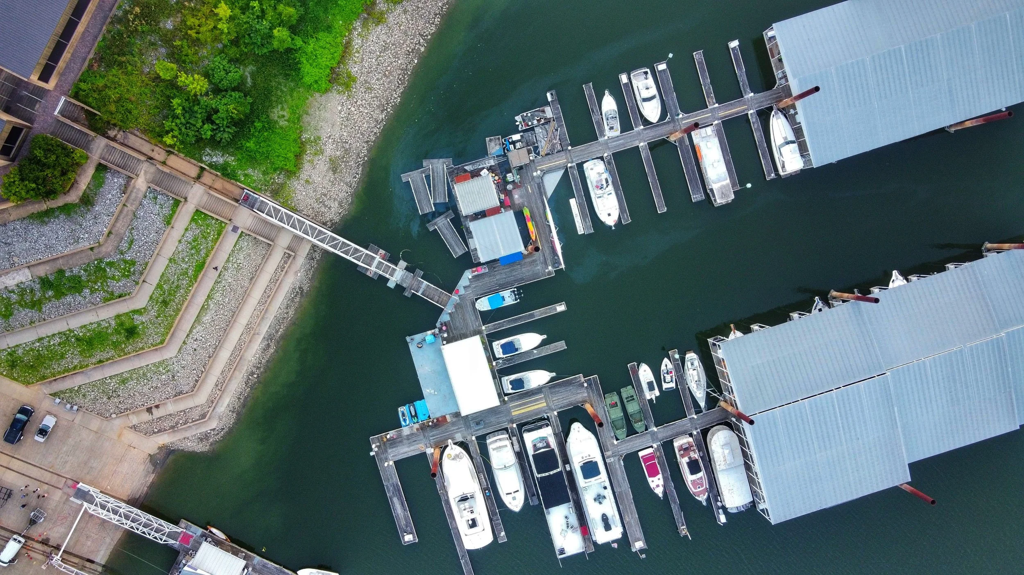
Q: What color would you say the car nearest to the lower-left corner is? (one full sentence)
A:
From above, the car nearest to the lower-left corner appears white.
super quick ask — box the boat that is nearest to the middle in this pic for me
[476,286,523,327]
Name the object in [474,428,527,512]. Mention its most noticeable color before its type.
white boat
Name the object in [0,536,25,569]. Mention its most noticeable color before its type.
white car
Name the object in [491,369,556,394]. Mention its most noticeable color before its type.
white boat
